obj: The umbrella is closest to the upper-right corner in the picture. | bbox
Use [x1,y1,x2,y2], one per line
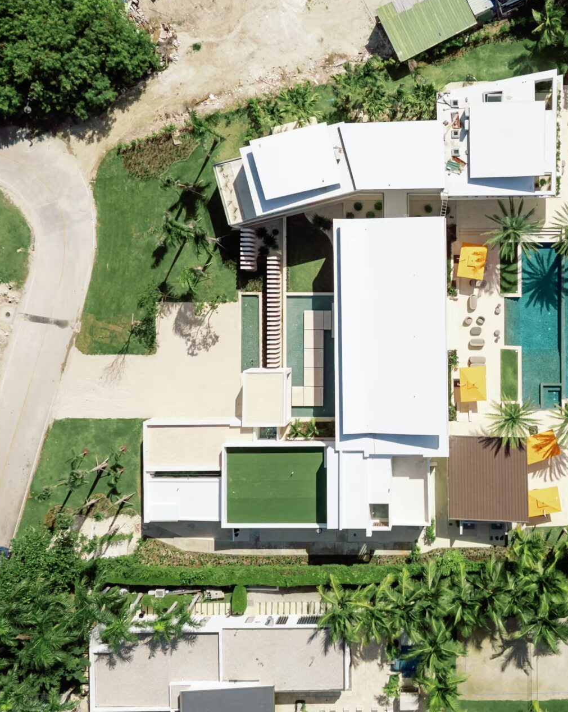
[454,244,488,280]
